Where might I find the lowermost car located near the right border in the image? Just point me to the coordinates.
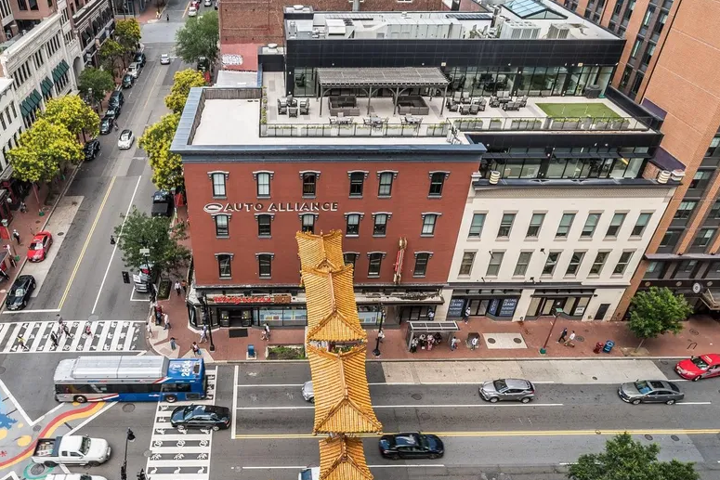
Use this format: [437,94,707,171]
[618,377,686,404]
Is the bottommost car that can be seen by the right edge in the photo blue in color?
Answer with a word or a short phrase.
No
